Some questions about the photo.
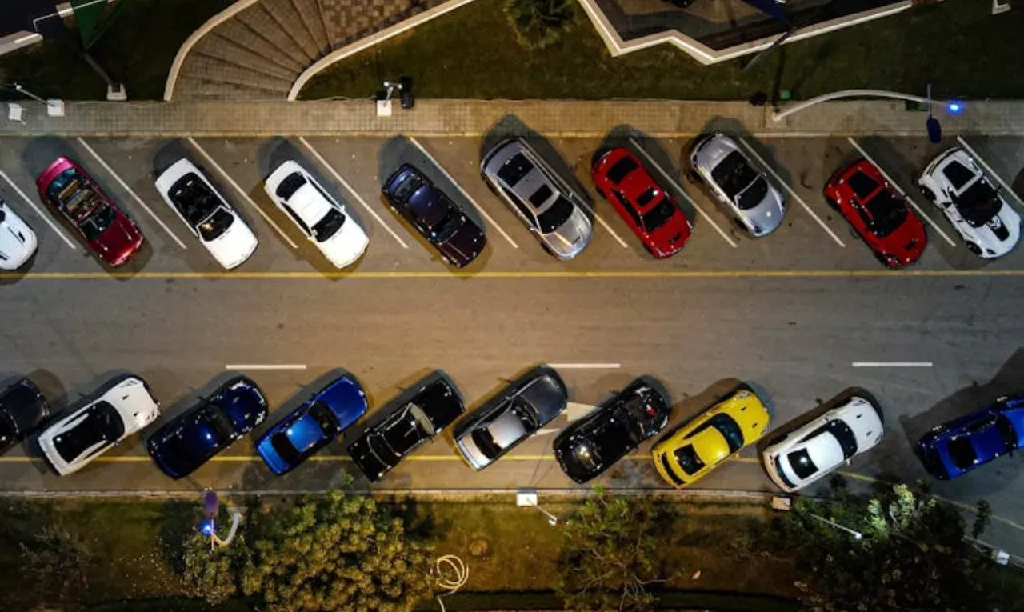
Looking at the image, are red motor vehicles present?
Yes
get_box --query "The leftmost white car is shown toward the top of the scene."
[0,195,37,267]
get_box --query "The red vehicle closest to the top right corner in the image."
[821,161,919,263]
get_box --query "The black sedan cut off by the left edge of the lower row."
[0,380,52,452]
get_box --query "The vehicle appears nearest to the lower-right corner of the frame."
[913,399,1024,480]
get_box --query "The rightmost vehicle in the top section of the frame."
[913,150,1014,255]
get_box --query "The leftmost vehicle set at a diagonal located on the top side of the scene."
[39,157,141,261]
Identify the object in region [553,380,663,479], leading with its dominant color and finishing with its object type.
black car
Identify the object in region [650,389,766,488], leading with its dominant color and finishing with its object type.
yellow car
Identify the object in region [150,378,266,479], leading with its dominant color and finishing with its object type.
black car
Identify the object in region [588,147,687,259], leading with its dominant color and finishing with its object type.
red car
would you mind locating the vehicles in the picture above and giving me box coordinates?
[913,399,1024,480]
[451,369,564,469]
[481,139,589,257]
[821,161,919,263]
[553,380,663,479]
[39,380,159,472]
[150,378,266,479]
[0,195,37,267]
[588,147,687,259]
[348,376,460,477]
[257,372,366,471]
[759,398,877,493]
[913,150,1014,255]
[0,380,52,452]
[382,163,483,265]
[650,389,766,488]
[265,161,363,266]
[39,157,141,261]
[157,158,255,264]
[687,137,779,234]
